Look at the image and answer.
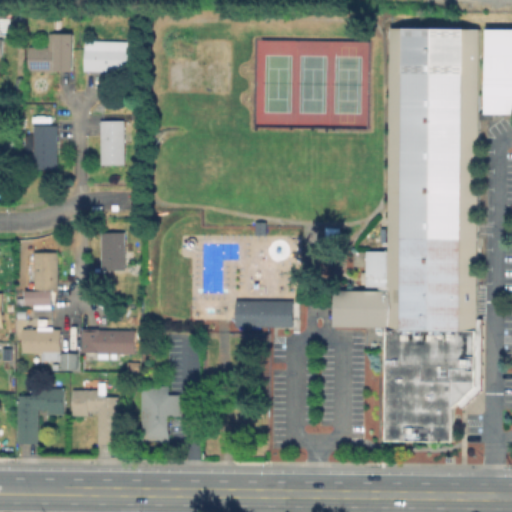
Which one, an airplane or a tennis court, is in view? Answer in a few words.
tennis court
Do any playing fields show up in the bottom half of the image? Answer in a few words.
No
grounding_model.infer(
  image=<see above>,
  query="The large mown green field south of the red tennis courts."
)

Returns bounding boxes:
[160,99,382,219]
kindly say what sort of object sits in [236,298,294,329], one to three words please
building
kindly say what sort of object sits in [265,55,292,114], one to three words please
tennis court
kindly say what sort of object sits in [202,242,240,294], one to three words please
swimming pool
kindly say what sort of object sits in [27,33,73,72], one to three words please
house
